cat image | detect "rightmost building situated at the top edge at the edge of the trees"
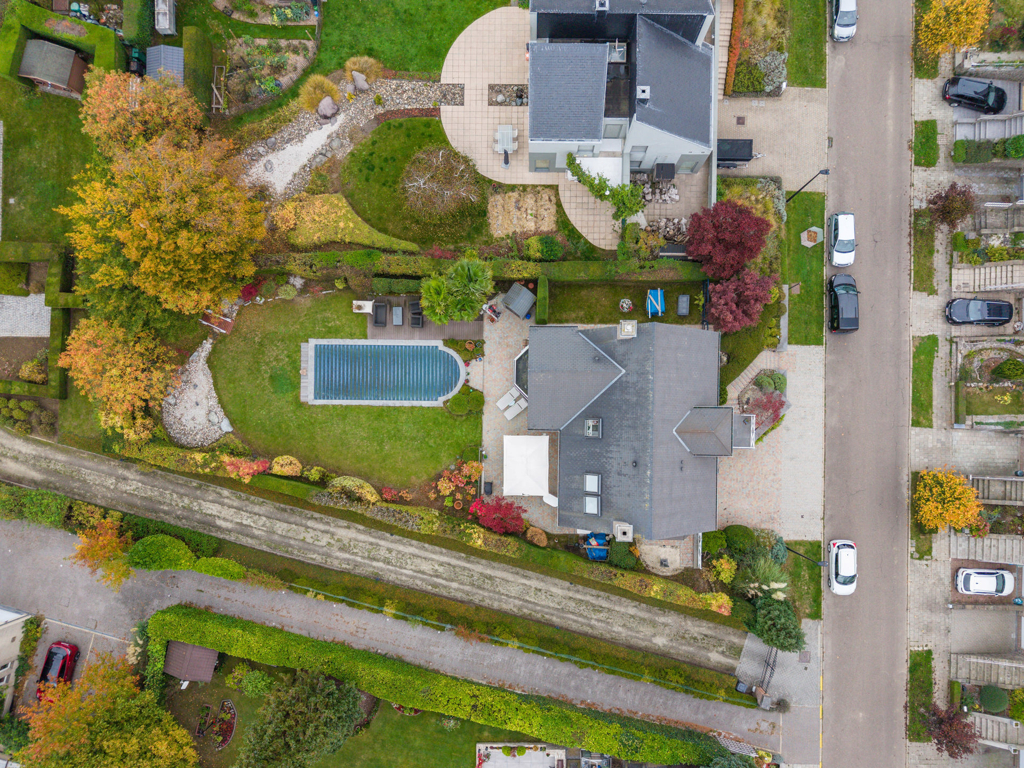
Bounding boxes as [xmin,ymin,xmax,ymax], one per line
[529,0,714,196]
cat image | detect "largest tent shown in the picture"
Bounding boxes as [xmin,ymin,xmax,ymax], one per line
[503,436,549,496]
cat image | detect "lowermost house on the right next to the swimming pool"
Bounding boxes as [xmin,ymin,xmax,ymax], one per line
[513,320,758,542]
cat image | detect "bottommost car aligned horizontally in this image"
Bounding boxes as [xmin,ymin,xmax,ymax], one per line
[949,566,1014,598]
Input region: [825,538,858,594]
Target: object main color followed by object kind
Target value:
white car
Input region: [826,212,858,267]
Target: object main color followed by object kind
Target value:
white car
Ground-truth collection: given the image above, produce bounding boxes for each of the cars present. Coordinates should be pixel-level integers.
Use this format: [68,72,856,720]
[825,538,858,594]
[938,79,1004,117]
[949,566,1014,598]
[825,274,860,334]
[941,296,1014,327]
[37,637,82,699]
[826,212,858,267]
[827,0,859,44]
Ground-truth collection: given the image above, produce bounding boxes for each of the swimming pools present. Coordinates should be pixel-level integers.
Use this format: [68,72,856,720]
[308,339,466,405]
